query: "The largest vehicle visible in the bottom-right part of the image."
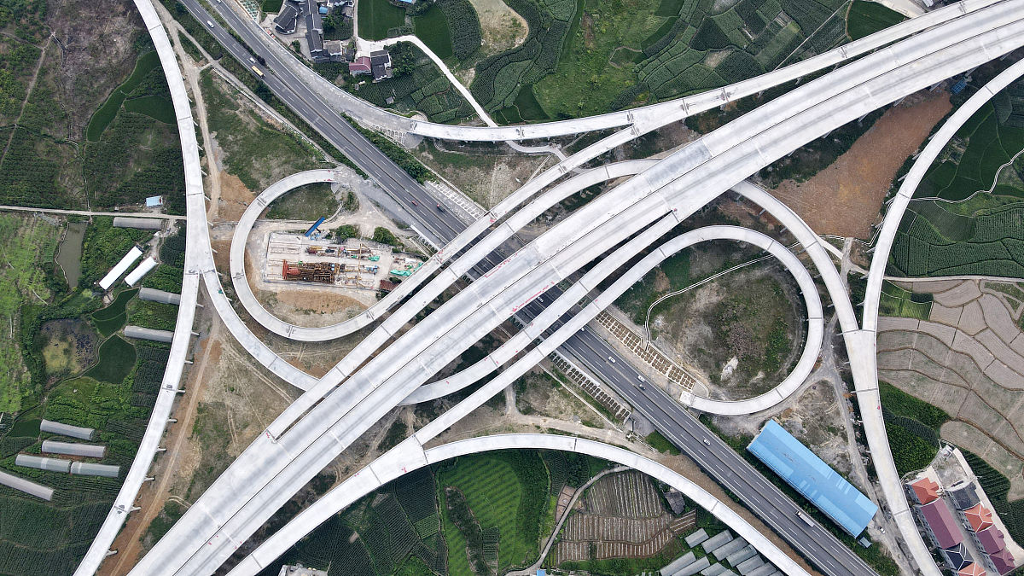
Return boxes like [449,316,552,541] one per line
[795,510,817,529]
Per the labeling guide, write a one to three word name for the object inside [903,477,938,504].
house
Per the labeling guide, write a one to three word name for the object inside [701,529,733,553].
greenhouse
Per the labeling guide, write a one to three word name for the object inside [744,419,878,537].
warehouse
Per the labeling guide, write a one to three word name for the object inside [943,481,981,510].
house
